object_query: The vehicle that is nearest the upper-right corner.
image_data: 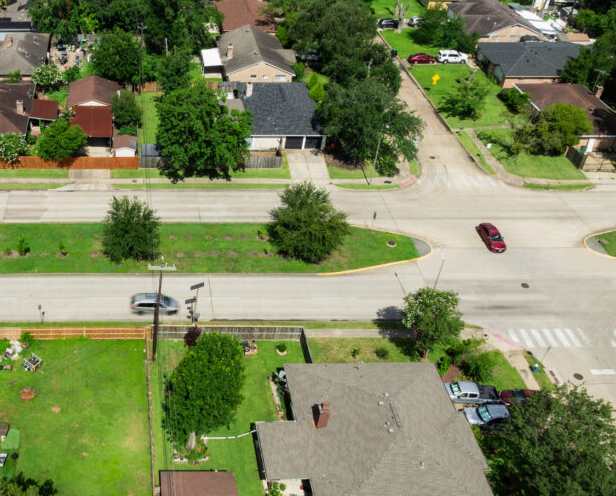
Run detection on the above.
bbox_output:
[438,50,466,62]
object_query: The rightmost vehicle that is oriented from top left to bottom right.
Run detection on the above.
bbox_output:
[473,225,509,251]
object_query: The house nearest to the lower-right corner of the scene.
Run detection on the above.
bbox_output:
[256,362,481,496]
